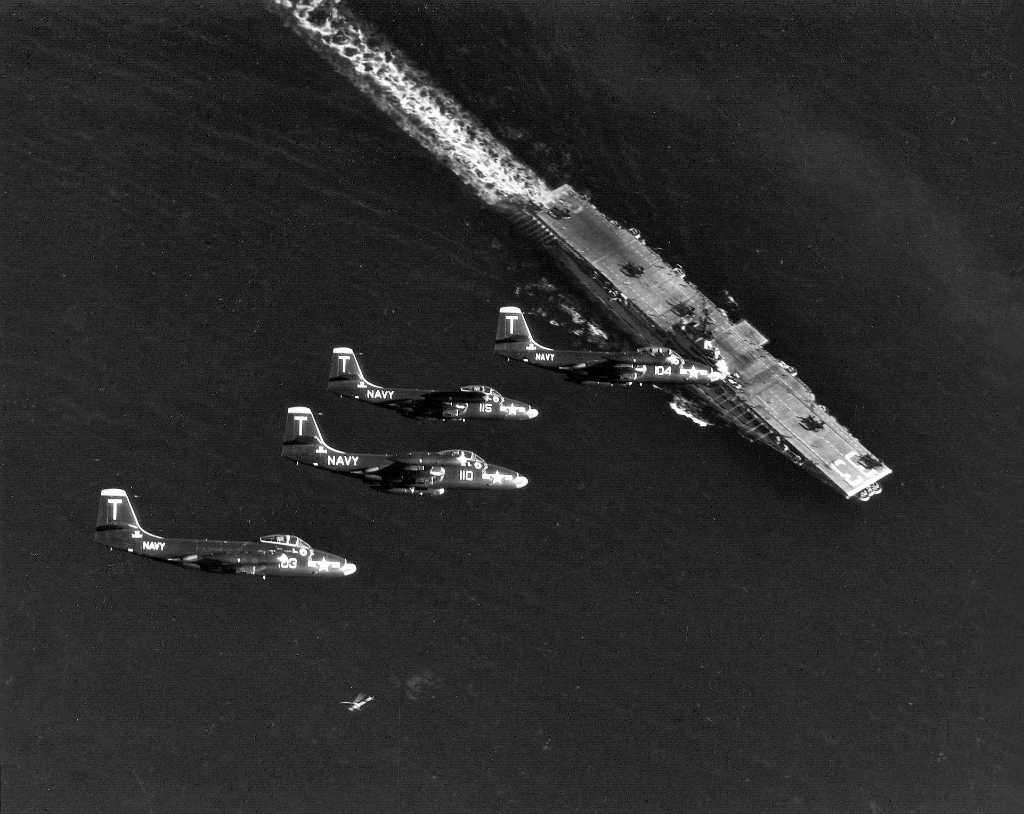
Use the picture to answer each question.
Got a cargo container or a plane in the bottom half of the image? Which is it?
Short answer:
plane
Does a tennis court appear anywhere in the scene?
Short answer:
No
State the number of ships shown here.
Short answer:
one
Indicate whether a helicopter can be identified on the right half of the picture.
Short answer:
No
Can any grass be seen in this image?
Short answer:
No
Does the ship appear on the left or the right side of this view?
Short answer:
right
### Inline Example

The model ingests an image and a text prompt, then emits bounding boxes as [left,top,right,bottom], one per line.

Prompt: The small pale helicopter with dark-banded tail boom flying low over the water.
[343,694,374,718]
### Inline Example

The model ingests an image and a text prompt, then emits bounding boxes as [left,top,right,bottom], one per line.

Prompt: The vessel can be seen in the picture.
[516,184,892,503]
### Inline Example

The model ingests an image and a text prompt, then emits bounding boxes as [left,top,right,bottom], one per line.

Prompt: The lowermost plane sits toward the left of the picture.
[94,489,356,581]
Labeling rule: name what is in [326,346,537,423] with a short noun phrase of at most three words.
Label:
airplane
